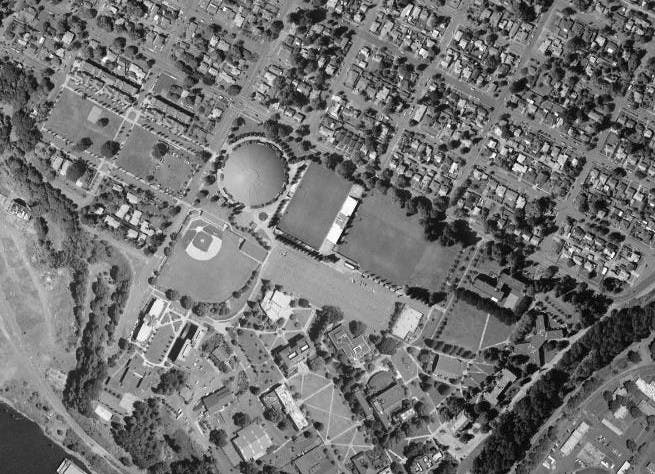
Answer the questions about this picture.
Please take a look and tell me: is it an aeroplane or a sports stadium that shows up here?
sports stadium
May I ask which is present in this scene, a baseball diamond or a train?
baseball diamond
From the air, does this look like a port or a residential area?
residential area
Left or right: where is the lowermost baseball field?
left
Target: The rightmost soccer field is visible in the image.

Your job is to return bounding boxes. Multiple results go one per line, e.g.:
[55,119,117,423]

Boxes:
[280,164,351,246]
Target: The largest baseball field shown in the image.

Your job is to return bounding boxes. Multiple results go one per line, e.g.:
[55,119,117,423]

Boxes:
[154,210,261,303]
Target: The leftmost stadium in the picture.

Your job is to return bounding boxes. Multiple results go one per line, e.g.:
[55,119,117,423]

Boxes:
[224,141,288,206]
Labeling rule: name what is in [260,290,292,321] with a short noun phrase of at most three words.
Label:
building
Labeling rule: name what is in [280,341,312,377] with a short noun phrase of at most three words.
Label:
building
